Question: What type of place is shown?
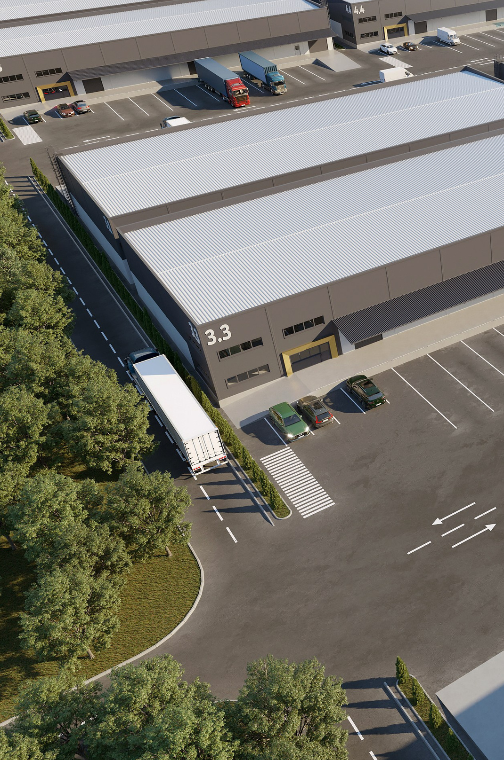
industrial area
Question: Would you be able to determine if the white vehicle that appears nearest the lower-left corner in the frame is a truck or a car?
truck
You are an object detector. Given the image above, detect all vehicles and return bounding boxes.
[150,115,188,132]
[195,56,253,106]
[438,28,460,45]
[380,71,411,84]
[128,346,227,474]
[400,40,420,51]
[72,101,91,114]
[345,376,386,409]
[55,104,74,116]
[268,401,310,441]
[239,52,292,93]
[296,394,336,428]
[24,111,42,124]
[379,42,398,54]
